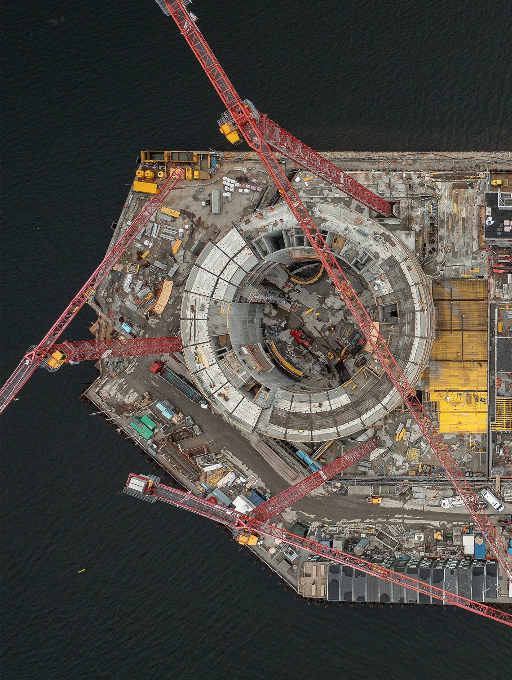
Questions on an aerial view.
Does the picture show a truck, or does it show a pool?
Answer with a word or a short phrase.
truck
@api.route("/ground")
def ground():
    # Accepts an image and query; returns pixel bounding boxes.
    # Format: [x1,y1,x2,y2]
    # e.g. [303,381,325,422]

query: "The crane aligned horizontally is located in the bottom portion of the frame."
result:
[123,424,512,628]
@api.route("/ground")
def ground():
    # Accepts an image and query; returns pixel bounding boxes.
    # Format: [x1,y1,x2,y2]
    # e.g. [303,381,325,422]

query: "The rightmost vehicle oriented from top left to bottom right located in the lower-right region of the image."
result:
[480,488,504,513]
